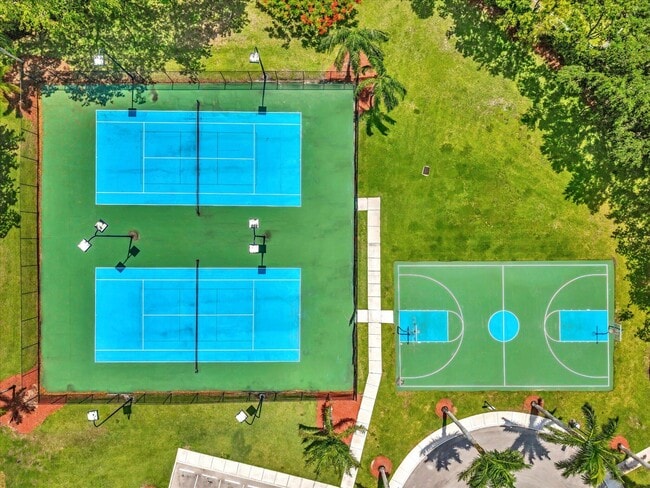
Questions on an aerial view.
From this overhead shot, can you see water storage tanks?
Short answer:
No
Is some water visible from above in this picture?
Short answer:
No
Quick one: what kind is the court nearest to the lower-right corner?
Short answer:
basketball court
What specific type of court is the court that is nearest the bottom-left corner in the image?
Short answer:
tennis court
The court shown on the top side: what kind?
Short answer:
tennis court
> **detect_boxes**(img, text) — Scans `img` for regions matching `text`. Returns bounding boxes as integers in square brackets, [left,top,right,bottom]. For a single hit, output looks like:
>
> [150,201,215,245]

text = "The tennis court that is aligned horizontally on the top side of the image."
[95,110,302,206]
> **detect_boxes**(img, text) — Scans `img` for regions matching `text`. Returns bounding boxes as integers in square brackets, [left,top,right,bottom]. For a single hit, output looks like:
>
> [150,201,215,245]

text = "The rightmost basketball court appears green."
[394,260,614,392]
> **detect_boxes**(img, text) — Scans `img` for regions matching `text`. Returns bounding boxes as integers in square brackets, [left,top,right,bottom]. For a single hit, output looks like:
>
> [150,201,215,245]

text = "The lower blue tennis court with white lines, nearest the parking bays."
[95,268,300,362]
